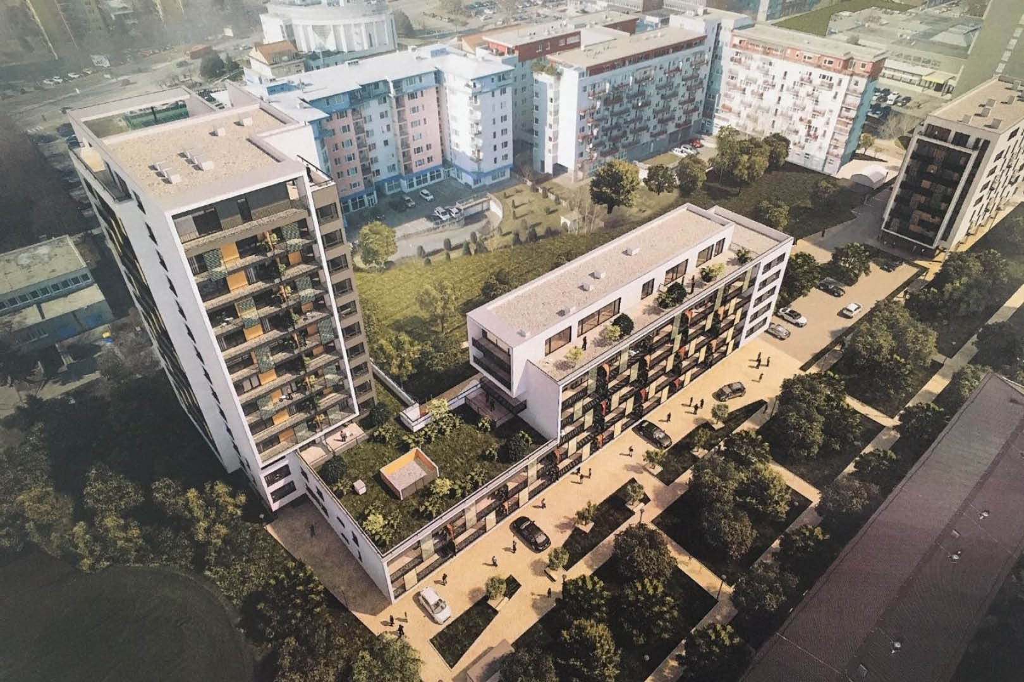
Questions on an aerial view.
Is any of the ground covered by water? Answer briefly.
No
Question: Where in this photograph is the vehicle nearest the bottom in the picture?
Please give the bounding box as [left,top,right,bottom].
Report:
[415,583,453,625]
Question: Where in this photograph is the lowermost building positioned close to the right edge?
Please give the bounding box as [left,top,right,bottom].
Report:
[719,376,1024,682]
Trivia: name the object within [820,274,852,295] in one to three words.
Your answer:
car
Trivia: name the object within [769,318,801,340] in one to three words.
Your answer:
car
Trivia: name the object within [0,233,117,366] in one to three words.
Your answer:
building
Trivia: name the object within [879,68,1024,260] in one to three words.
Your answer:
house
